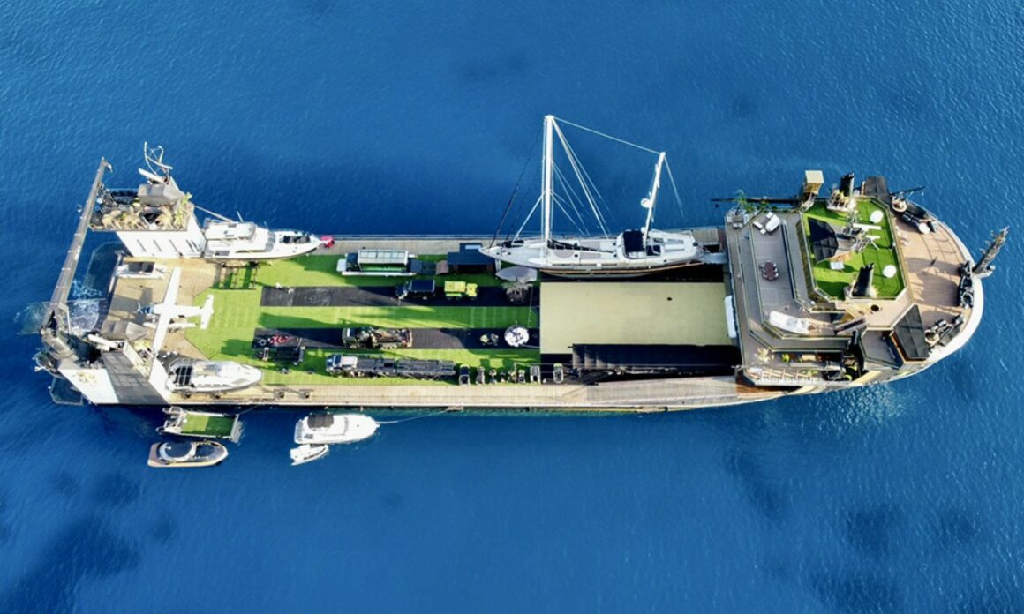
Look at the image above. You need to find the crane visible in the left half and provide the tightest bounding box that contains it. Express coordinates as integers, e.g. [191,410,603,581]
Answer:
[33,159,121,369]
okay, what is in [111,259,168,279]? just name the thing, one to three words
boat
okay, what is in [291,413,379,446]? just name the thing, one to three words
boat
